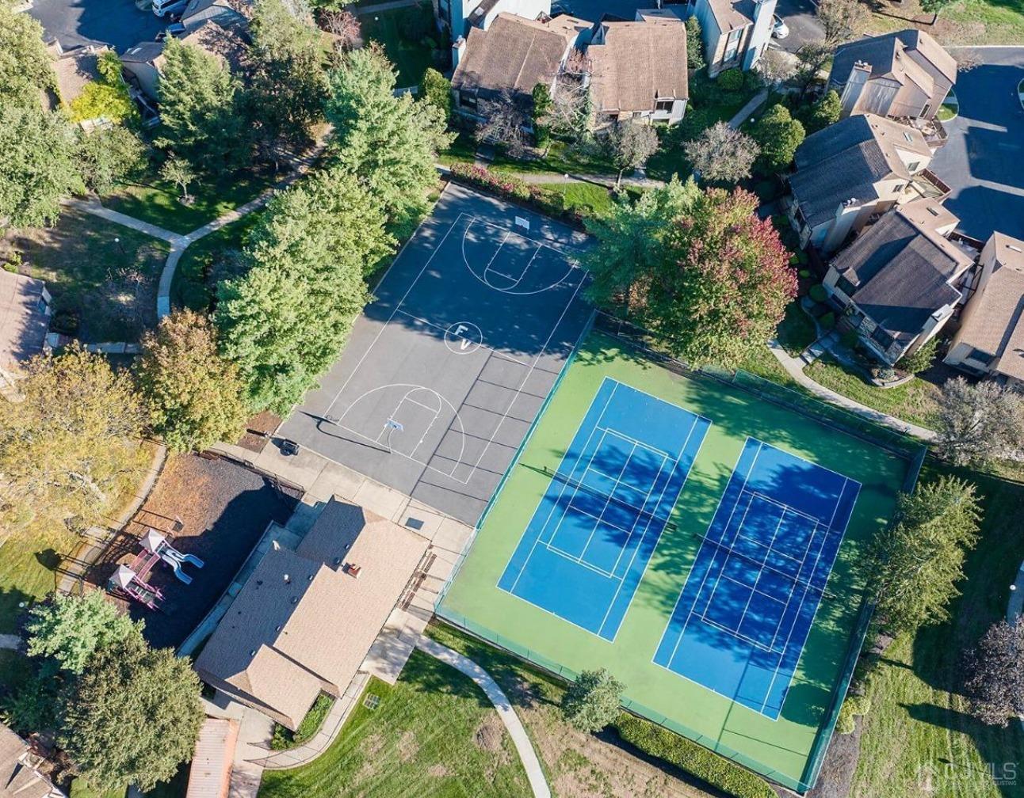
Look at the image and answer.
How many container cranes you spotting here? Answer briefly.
0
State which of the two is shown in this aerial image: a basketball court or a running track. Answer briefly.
basketball court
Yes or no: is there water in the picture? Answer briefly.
No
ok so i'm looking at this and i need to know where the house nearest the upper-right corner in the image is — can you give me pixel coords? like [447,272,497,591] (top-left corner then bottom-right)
[828,27,957,146]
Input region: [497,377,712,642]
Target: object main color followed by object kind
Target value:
blue tennis court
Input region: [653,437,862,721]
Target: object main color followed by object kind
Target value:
blue tennis court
